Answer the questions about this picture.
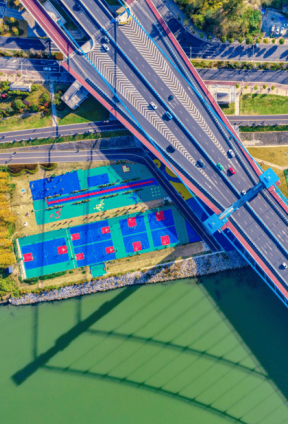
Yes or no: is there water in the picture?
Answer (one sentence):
Yes, water shows up in the scene.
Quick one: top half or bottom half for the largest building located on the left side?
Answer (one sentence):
The largest building located on the left side sits in the top half of the picture.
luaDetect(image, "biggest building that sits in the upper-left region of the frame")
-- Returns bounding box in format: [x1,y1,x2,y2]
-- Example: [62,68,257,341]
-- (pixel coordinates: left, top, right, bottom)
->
[61,79,91,110]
